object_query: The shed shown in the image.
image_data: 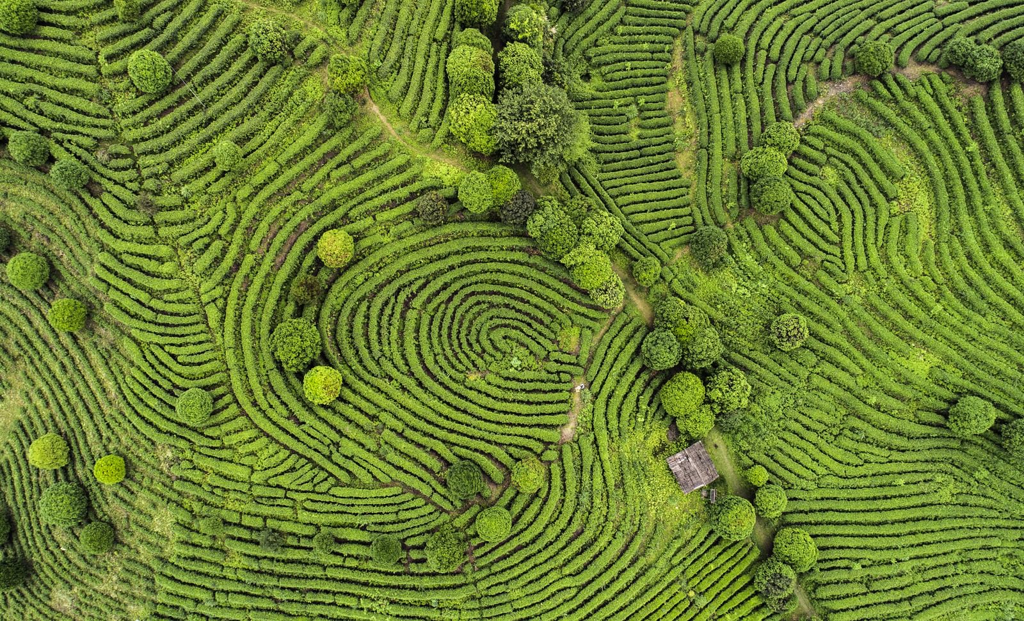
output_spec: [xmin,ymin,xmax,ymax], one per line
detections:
[664,440,720,495]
